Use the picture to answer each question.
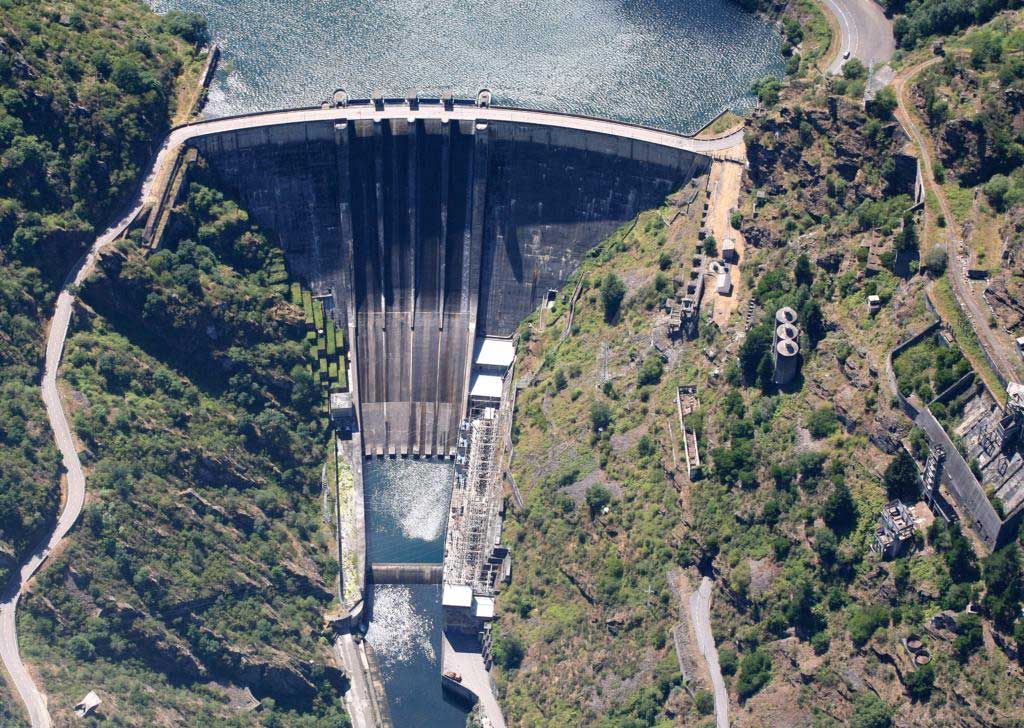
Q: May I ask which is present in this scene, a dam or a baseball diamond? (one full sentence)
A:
This aerial view contains a dam.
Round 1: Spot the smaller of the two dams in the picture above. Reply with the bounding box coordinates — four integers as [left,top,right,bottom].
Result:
[366,563,445,589]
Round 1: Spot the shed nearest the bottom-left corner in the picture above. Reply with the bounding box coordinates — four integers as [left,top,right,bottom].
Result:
[80,691,103,718]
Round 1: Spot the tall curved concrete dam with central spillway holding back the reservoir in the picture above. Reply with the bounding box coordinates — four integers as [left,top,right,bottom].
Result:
[178,90,703,459]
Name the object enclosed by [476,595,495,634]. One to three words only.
building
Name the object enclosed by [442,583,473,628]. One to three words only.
building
